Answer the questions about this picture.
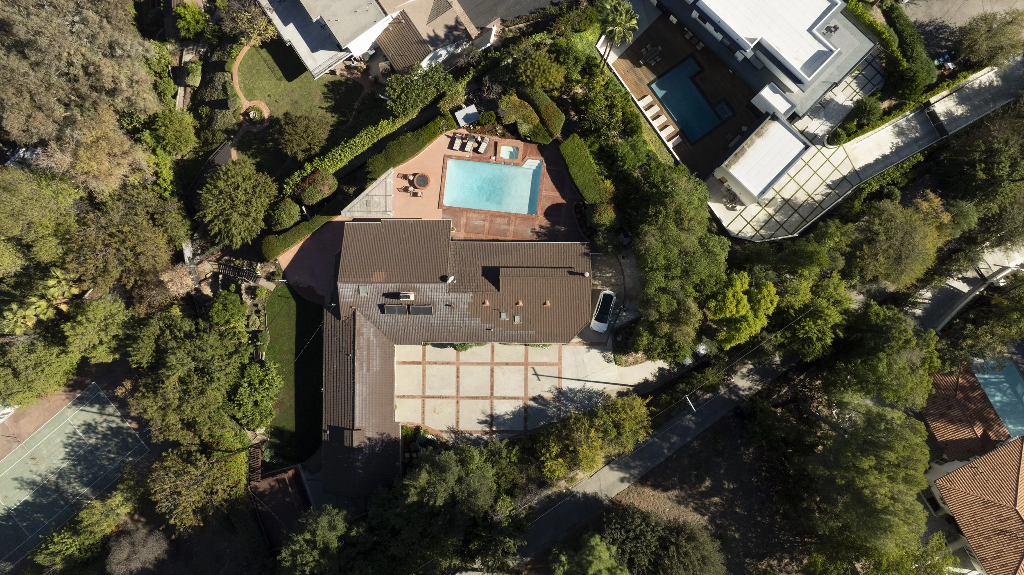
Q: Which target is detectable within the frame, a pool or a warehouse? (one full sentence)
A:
Visible in the photo is a pool.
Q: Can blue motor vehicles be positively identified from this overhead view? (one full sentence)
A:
No, there is no blue motor vehicle in the image.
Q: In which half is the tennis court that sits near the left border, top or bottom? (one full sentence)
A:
It is in the bottom half that the tennis court that sits near the left border appears.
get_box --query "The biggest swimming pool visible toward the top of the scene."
[443,157,542,214]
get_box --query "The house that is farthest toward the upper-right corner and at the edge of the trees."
[658,0,879,203]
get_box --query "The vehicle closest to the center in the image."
[588,287,619,335]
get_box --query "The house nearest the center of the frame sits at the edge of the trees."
[321,219,592,497]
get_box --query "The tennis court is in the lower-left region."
[0,383,149,575]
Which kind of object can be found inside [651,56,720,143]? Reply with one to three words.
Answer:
swimming pool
